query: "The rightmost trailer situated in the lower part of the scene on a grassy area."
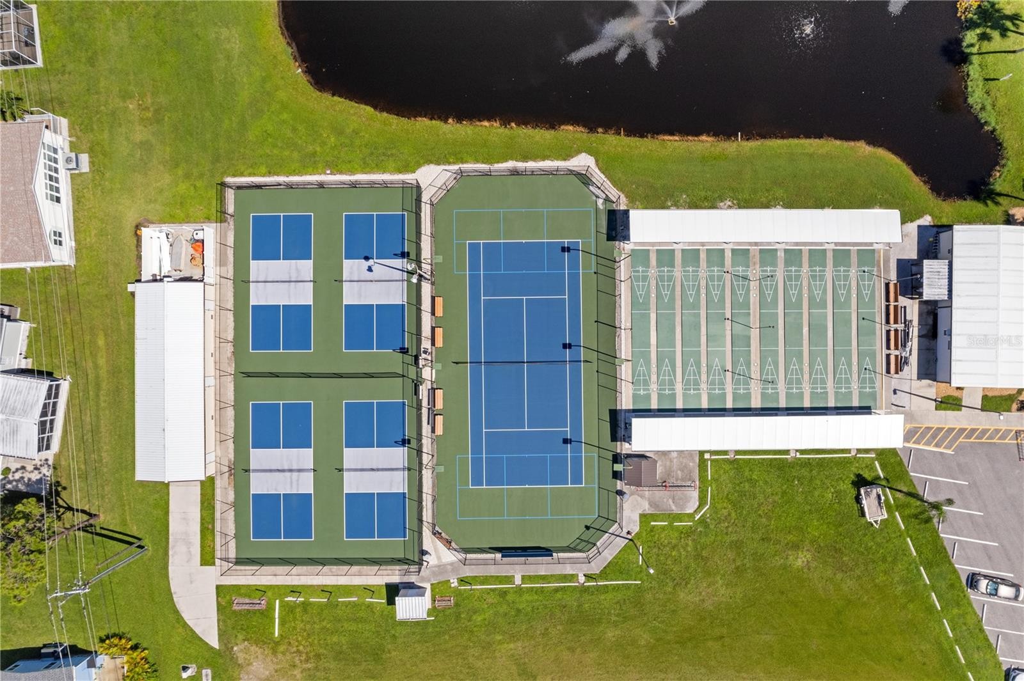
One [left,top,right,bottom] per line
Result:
[862,485,893,532]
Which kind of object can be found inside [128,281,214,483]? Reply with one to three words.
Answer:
barn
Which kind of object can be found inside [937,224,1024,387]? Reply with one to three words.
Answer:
building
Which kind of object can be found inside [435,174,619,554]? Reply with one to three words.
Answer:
tennis court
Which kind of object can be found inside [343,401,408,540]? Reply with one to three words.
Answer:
sports court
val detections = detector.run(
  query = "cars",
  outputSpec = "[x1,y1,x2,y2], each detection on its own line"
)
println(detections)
[971,572,1024,600]
[1009,666,1024,681]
